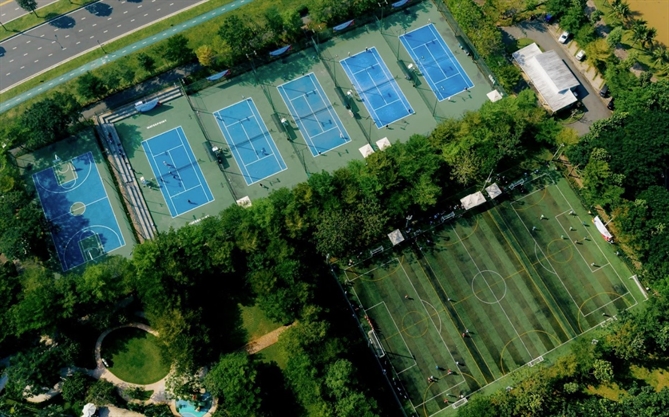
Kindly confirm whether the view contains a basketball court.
Yes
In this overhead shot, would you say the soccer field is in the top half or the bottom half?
bottom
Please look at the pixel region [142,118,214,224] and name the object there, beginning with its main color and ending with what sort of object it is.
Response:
blue tennis court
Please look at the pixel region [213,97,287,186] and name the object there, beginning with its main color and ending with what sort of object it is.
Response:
blue tennis court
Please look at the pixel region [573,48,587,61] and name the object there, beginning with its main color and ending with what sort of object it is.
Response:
white vehicle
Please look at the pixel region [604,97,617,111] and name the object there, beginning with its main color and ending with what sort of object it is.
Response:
black vehicle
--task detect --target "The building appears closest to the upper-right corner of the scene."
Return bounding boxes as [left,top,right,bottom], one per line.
[508,42,579,115]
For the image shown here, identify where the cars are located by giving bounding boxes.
[597,84,610,97]
[604,97,617,111]
[571,87,582,101]
[573,48,587,61]
[557,31,568,44]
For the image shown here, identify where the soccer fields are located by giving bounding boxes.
[326,154,651,417]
